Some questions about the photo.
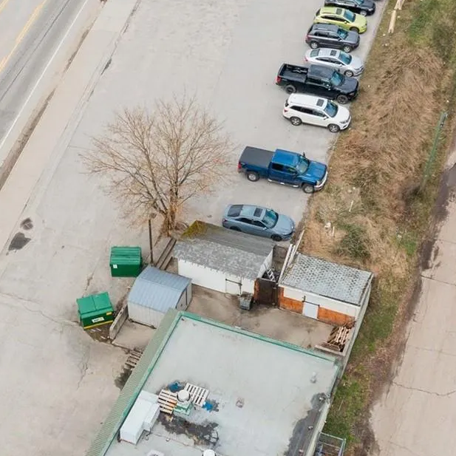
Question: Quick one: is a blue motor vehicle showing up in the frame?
Yes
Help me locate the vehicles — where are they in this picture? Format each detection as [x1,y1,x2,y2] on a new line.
[236,150,328,194]
[313,6,367,35]
[323,0,376,18]
[304,48,364,77]
[276,62,356,99]
[284,94,350,132]
[305,21,360,54]
[223,207,294,242]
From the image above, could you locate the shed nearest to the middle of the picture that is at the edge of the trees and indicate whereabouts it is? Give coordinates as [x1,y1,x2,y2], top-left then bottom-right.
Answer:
[173,215,276,298]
